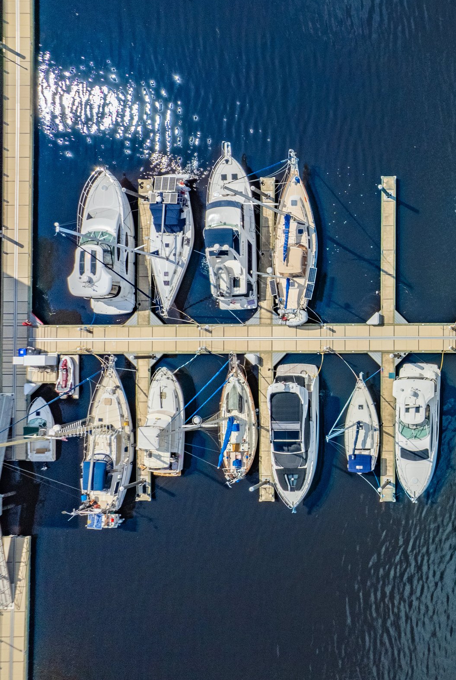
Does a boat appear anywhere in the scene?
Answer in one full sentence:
Yes, there's a boat here.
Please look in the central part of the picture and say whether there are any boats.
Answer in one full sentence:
Yes, a boat can be seen in the central part of the picture.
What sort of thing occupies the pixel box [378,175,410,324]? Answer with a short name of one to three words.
pier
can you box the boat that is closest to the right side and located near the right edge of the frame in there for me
[393,364,441,503]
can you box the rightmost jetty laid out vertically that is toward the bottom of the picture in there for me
[367,352,410,503]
